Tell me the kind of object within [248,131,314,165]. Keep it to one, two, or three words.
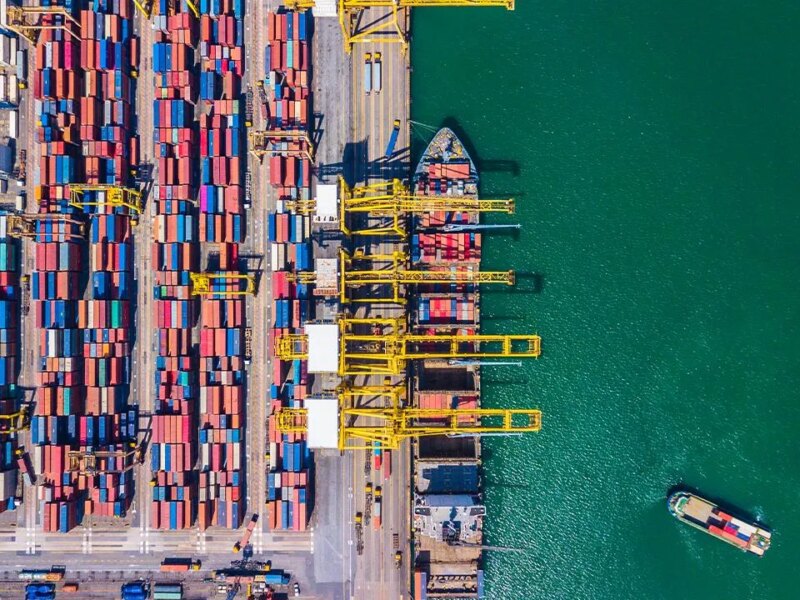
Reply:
container crane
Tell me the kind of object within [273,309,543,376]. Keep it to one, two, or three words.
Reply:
container crane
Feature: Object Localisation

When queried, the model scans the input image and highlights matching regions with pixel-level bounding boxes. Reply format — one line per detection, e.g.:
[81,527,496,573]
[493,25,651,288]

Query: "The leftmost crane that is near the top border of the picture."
[4,6,81,48]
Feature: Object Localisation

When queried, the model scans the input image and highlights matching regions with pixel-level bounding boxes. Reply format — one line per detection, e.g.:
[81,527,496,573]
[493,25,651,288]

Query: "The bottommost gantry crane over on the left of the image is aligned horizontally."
[68,441,143,475]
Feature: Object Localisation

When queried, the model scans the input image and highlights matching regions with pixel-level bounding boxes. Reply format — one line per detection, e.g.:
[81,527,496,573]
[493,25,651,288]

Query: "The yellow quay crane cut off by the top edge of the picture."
[284,0,515,63]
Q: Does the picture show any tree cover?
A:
No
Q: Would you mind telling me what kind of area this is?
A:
port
